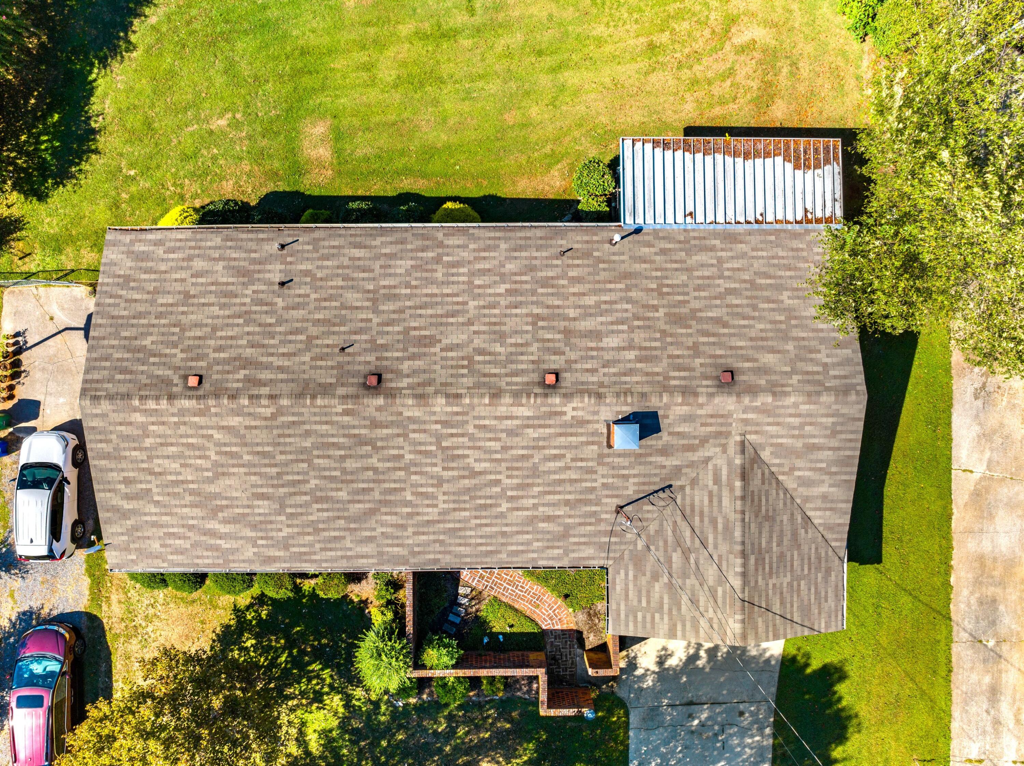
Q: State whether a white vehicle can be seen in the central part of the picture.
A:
No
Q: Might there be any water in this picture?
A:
No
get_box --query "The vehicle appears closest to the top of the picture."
[5,434,85,565]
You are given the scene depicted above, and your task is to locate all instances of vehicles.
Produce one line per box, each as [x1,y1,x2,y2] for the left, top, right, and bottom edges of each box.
[8,626,90,766]
[5,434,85,565]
